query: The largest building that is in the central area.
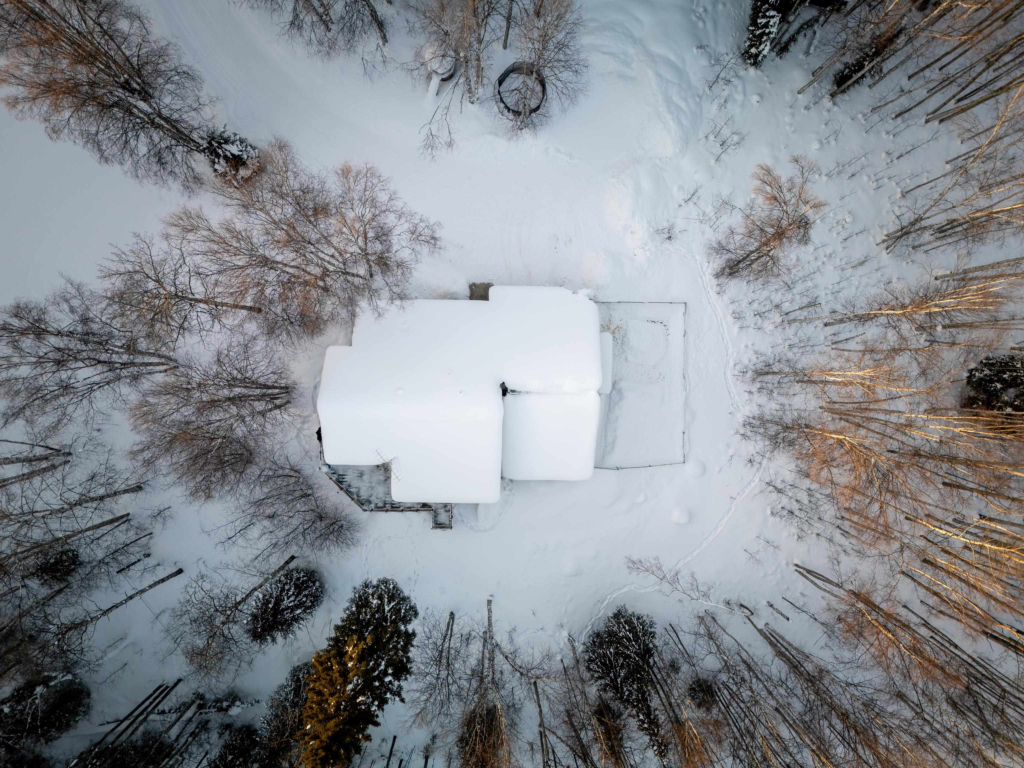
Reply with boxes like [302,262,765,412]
[319,287,603,503]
